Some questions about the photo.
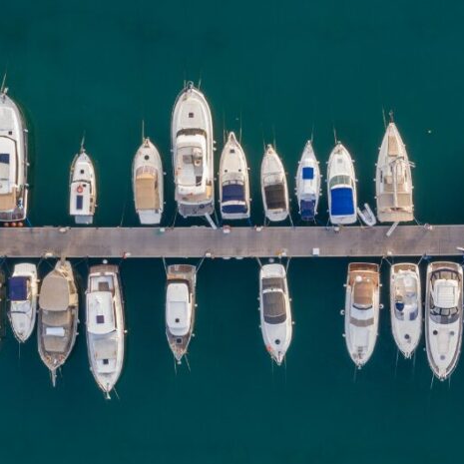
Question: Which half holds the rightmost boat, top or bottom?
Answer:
bottom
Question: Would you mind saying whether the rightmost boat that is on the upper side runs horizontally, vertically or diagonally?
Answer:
vertically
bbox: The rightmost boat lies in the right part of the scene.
[422,256,464,390]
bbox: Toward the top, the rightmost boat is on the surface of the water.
[371,111,426,235]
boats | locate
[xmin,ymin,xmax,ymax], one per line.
[5,256,41,349]
[125,133,166,227]
[215,124,253,226]
[422,256,464,390]
[171,80,219,228]
[0,75,31,226]
[35,251,82,385]
[82,255,129,398]
[259,140,293,227]
[322,131,364,227]
[256,254,295,376]
[67,136,98,228]
[371,111,426,235]
[293,135,323,227]
[164,255,203,370]
[340,254,393,381]
[360,202,379,224]
[385,254,426,372]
